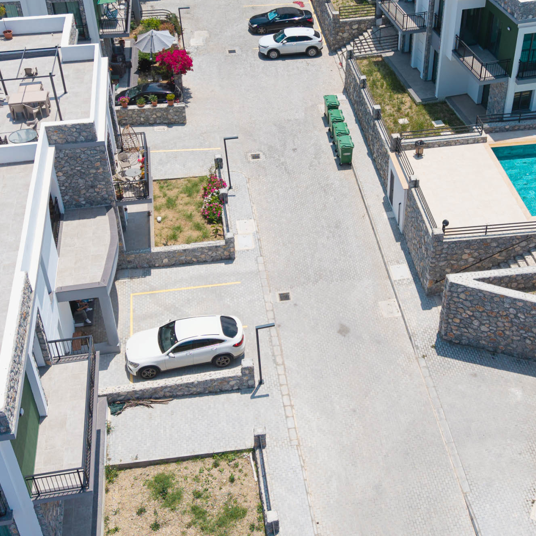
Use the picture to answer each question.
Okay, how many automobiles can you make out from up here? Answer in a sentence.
In total, 4 automobiles can be seen.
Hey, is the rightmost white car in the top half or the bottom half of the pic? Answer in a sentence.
It is in the top half that the rightmost white car appears.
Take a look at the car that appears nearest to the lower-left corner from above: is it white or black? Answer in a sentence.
The color of the car that appears nearest to the lower-left corner is white.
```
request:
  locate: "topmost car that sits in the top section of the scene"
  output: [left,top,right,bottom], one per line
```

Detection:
[247,7,314,34]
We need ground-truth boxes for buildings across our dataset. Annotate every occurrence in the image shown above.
[361,0,536,143]
[0,14,155,536]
